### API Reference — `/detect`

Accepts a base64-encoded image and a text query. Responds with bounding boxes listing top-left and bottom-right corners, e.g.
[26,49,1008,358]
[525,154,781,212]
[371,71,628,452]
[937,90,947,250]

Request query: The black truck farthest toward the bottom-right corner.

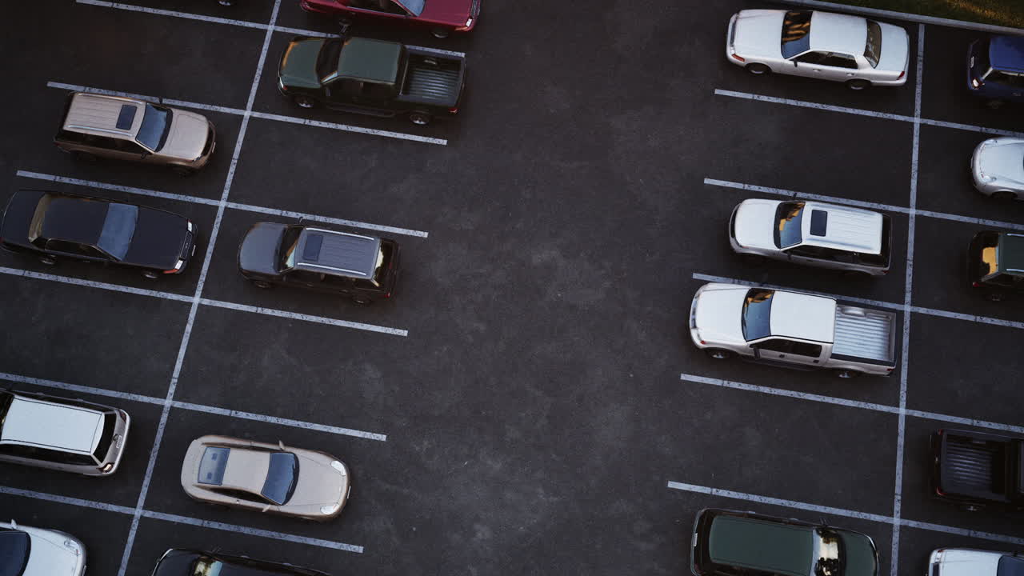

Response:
[927,431,1024,520]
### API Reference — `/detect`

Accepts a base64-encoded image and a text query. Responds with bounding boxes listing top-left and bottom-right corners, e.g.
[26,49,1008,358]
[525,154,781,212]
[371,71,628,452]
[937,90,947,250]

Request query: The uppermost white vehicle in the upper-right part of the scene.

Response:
[726,7,909,87]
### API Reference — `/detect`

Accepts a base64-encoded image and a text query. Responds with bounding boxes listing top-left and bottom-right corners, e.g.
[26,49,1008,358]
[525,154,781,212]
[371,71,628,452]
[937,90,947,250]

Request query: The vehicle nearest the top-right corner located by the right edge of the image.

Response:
[960,33,1024,108]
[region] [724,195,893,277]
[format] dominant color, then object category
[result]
white car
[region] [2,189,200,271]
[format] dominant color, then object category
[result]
black car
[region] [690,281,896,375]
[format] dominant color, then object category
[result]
white truck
